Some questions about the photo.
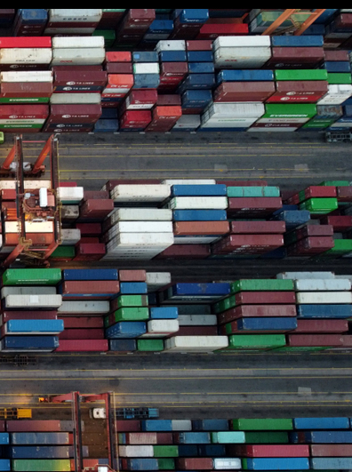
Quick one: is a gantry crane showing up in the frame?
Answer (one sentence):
Yes, there is a gantry crane in the image.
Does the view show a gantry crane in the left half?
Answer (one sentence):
Yes, a gantry crane can be seen in the left half.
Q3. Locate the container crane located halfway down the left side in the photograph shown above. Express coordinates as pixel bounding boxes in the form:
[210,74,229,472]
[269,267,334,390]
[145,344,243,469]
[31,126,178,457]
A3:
[0,133,64,270]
